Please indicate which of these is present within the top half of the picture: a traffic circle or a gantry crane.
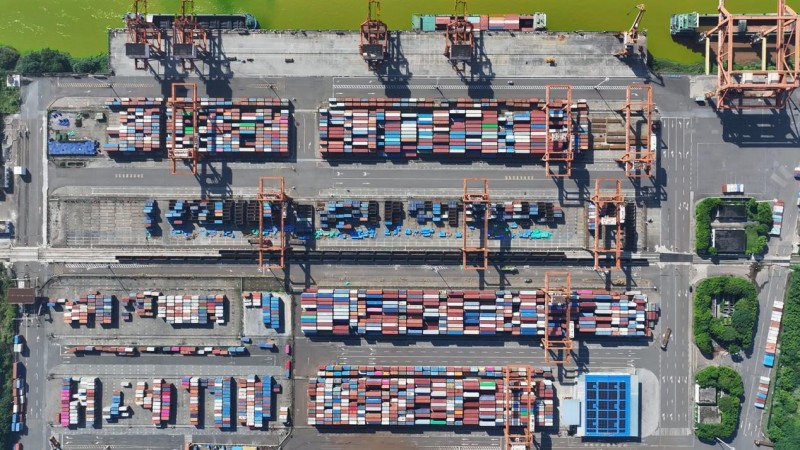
gantry crane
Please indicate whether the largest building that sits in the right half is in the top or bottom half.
bottom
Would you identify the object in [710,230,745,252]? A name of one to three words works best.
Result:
building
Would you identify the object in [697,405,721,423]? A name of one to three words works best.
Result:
shed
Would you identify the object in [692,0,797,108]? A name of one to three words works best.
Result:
crane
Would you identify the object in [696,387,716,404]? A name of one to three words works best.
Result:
shed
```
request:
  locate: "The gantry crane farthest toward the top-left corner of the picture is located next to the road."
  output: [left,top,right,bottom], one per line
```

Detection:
[122,0,170,71]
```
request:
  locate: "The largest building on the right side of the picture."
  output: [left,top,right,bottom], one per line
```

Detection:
[576,372,640,436]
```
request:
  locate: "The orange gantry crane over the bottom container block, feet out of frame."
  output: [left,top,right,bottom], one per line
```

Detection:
[497,366,536,450]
